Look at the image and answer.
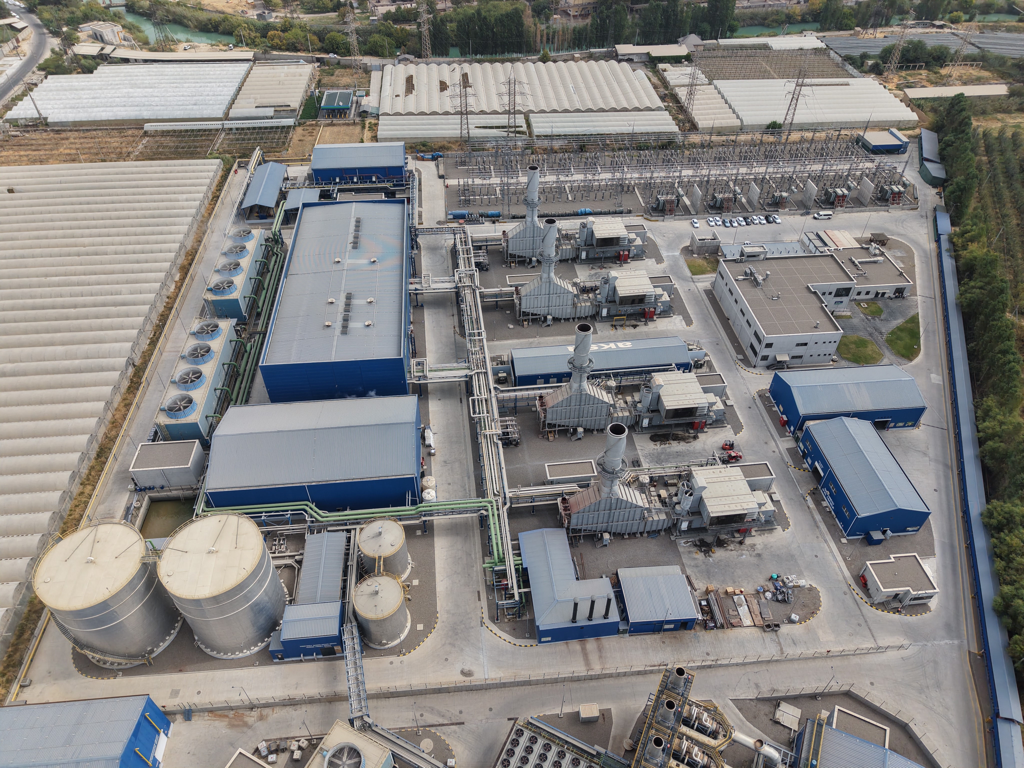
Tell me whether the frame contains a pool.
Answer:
No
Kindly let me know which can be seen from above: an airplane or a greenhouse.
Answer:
greenhouse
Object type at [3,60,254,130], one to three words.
greenhouse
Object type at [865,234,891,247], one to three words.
gazebo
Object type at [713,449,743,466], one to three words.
work vehicle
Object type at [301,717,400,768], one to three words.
cooling tower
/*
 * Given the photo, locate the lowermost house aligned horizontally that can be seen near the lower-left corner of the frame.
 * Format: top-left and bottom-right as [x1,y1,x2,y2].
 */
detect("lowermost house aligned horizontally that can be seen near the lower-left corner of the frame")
[0,694,174,768]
